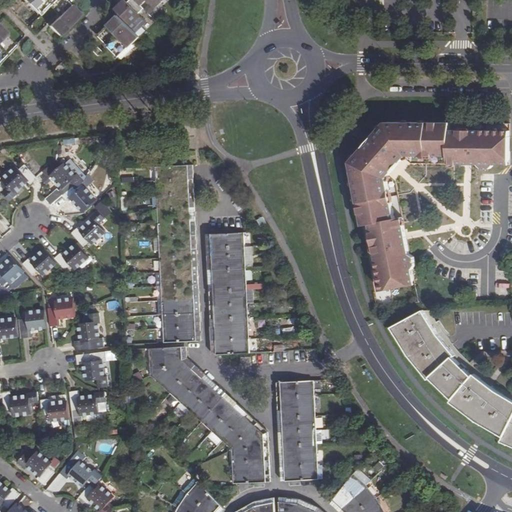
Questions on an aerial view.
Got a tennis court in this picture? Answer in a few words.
No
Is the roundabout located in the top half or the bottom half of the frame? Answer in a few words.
top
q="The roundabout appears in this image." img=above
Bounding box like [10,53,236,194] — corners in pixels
[222,0,349,124]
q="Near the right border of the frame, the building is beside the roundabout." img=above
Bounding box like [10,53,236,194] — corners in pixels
[346,122,510,300]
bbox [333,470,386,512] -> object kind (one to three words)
building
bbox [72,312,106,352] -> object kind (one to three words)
house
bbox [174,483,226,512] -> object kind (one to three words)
building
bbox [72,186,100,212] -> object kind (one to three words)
house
